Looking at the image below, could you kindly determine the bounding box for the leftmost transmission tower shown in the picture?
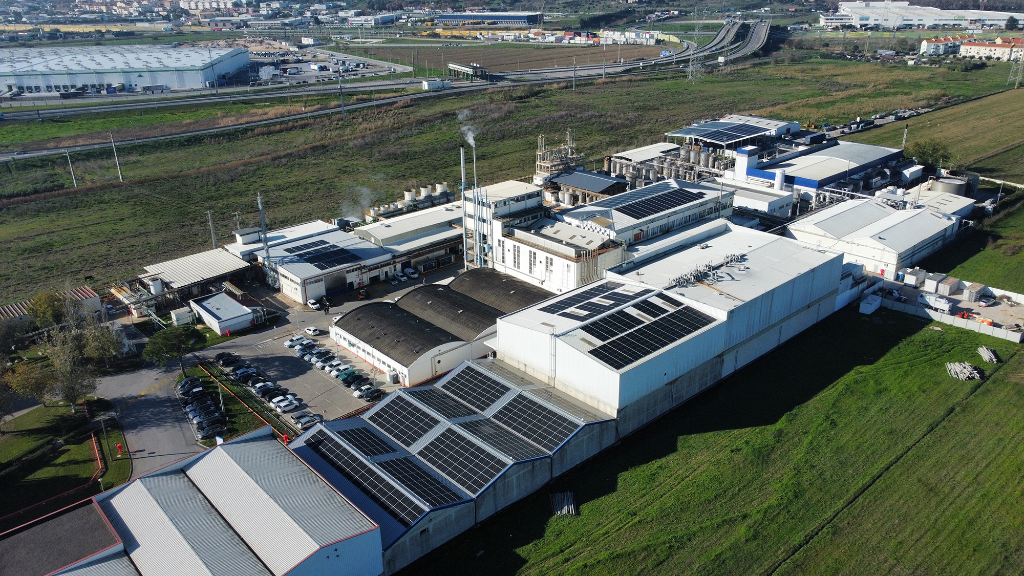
[532,3,547,47]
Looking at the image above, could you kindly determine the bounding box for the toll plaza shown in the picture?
[447,62,490,81]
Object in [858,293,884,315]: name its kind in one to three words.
shed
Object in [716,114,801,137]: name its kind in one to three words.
building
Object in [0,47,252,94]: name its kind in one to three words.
building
